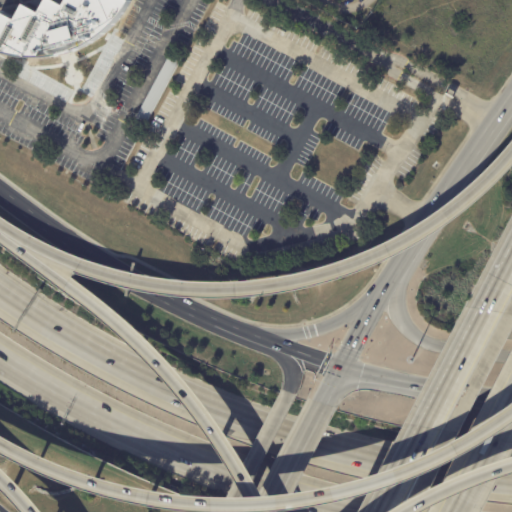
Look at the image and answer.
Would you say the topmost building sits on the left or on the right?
left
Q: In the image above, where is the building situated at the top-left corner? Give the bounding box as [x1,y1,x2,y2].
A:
[0,0,128,58]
